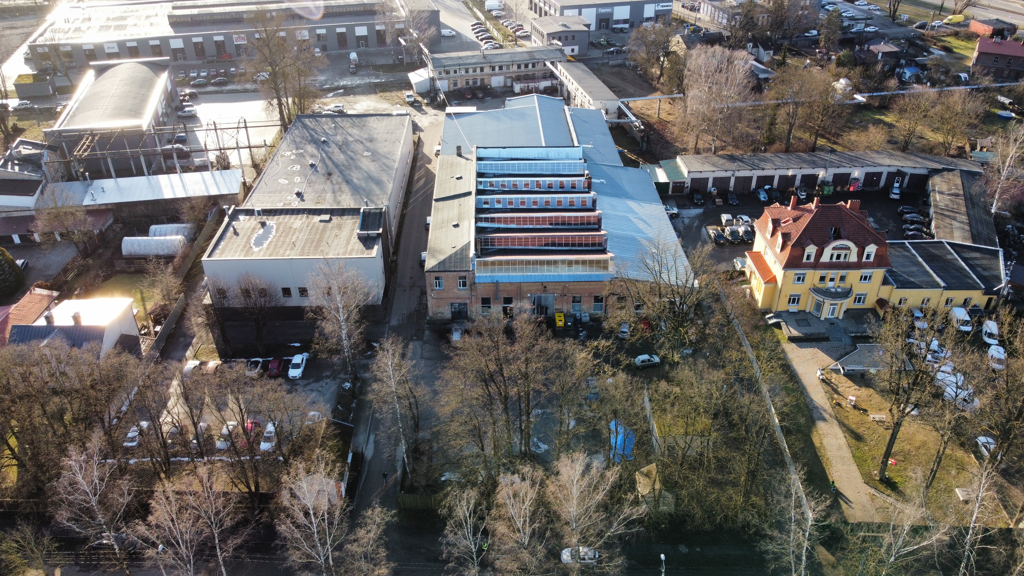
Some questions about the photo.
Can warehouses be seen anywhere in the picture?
Yes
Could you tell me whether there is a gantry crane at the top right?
No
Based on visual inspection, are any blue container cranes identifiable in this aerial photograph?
No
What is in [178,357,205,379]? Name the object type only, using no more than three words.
car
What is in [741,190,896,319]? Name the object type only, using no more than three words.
house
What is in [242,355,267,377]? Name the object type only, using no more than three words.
car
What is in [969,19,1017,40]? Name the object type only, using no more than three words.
shed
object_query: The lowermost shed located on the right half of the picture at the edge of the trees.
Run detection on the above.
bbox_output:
[636,463,678,512]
